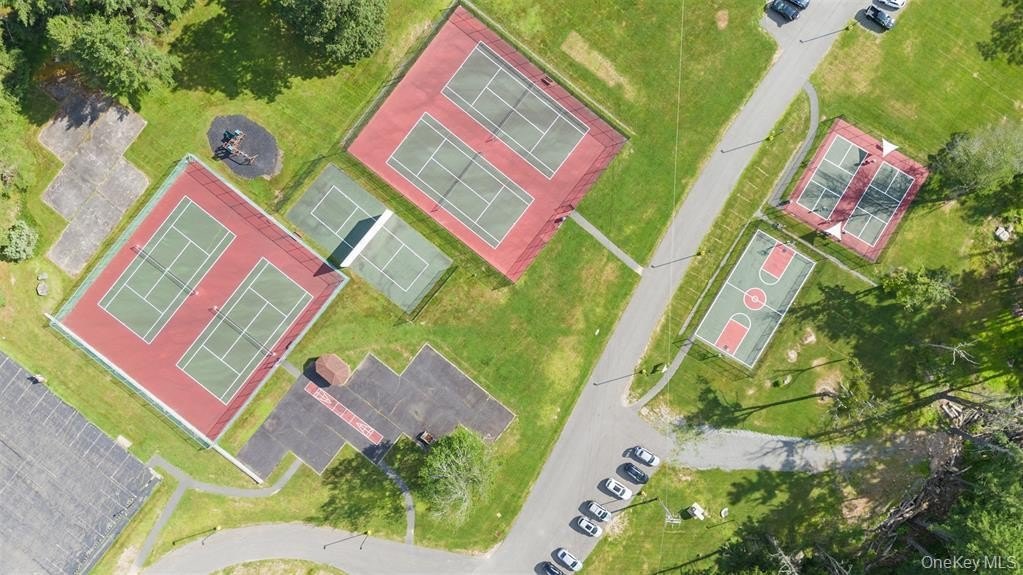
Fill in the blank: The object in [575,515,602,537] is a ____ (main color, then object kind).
white car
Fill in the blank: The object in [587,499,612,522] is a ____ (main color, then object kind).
white car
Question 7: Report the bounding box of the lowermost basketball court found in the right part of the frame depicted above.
[694,230,816,368]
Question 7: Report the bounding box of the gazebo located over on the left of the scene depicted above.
[316,352,353,385]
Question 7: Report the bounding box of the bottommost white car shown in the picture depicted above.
[556,547,583,571]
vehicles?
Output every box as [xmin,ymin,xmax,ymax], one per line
[622,461,651,485]
[877,0,905,9]
[787,0,812,10]
[604,476,633,500]
[633,445,660,468]
[539,559,564,575]
[575,515,602,537]
[587,499,612,522]
[862,3,896,30]
[556,547,583,571]
[770,0,800,22]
